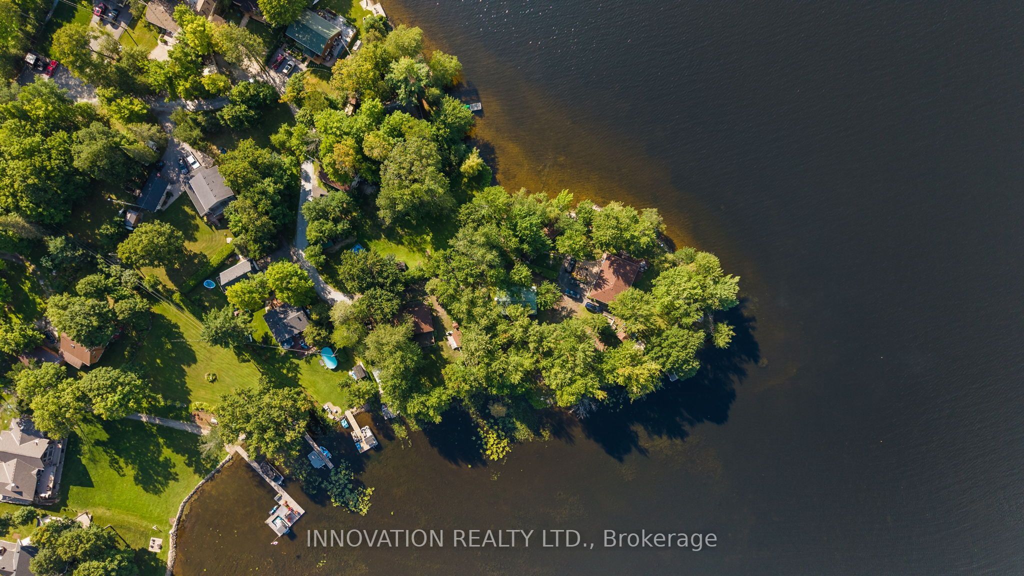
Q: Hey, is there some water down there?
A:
Yes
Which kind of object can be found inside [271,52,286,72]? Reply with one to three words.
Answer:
vehicle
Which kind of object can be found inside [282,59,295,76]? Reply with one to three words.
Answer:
vehicle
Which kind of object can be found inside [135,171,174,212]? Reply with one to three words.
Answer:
building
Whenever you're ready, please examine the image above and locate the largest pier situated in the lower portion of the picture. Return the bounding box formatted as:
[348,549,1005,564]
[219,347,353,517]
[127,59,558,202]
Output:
[234,444,308,536]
